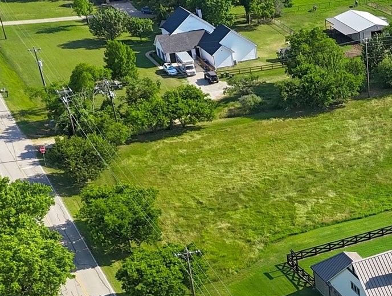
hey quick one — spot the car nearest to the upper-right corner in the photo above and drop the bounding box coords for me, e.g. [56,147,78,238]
[204,71,219,83]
